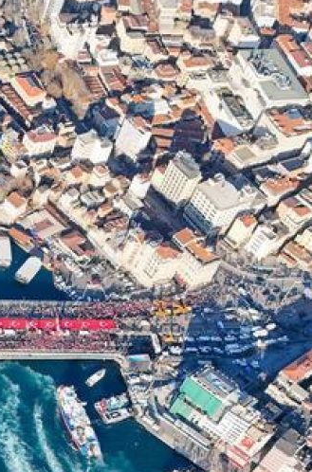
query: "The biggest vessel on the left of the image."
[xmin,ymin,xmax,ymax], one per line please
[52,380,108,461]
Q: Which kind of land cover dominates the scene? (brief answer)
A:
buildings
